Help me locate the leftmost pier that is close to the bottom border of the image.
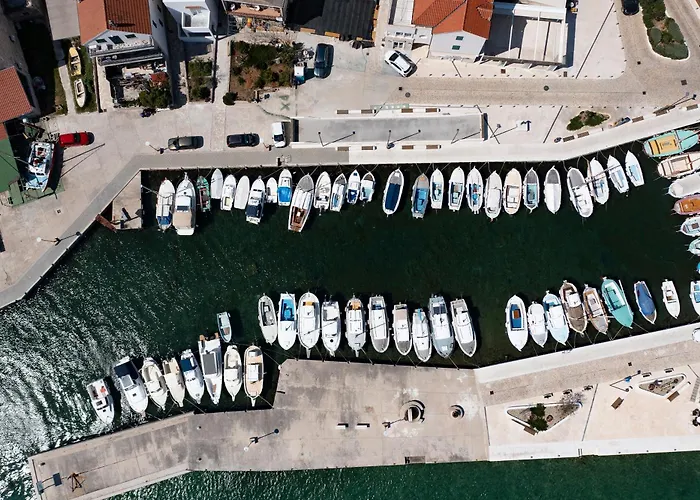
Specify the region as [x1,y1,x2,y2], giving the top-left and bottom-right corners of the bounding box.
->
[14,358,489,500]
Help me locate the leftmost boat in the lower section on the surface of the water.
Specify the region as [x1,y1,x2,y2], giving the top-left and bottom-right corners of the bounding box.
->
[88,380,116,432]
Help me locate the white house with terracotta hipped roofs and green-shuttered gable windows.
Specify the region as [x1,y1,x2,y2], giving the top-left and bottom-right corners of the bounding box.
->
[409,0,493,63]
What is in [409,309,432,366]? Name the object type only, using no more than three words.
boat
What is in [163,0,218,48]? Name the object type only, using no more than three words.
house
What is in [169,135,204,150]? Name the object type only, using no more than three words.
car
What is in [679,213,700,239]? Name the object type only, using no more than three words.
boat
